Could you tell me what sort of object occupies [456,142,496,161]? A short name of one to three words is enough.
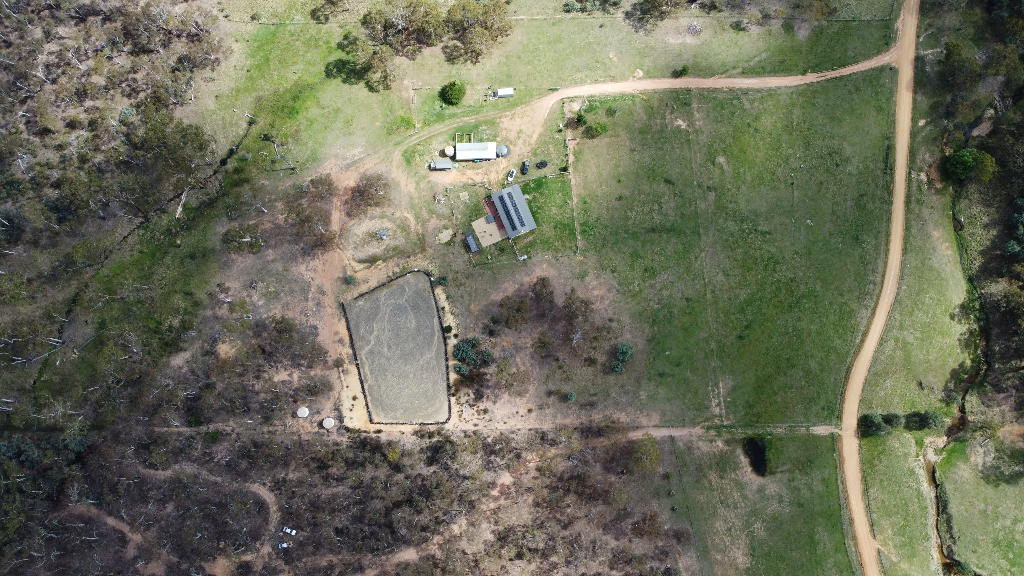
shed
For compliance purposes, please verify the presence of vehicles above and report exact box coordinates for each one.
[282,527,296,535]
[523,159,530,173]
[277,541,293,550]
[508,168,516,181]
